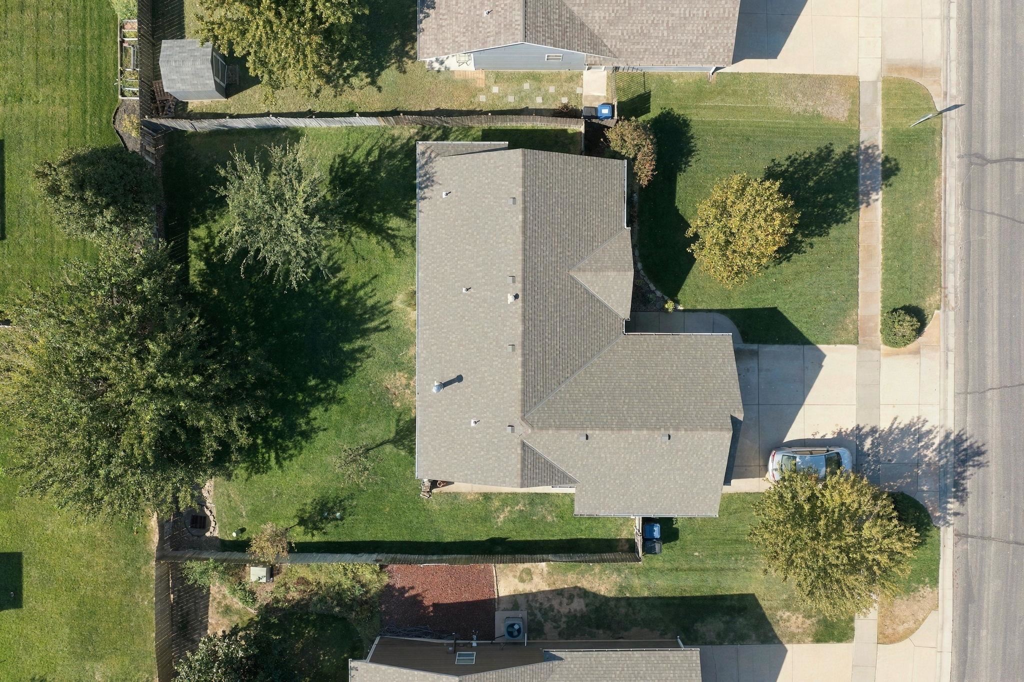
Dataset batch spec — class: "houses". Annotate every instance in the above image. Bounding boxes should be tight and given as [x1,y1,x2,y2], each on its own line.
[418,0,741,80]
[417,142,745,516]
[349,631,703,682]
